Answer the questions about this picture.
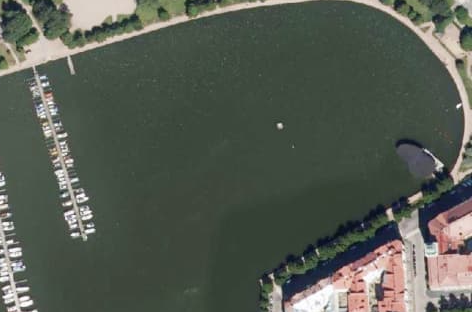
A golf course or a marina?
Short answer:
marina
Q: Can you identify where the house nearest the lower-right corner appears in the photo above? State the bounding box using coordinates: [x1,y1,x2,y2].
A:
[424,243,472,290]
